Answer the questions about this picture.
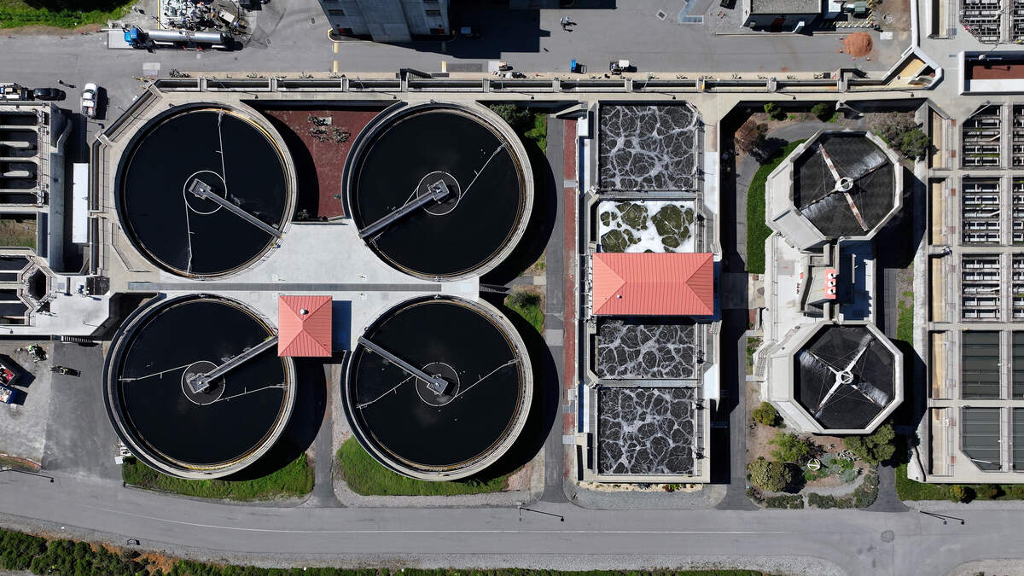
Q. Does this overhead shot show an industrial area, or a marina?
industrial area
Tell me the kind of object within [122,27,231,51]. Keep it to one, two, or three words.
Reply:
truck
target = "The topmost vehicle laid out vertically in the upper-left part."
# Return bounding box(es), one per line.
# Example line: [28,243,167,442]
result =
[80,83,98,118]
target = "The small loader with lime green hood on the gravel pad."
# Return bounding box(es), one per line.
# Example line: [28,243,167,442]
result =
[25,348,44,365]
